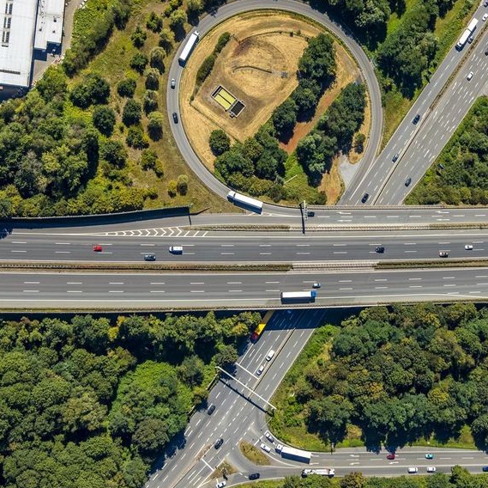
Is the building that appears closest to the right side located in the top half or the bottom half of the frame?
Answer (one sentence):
You can find the building that appears closest to the right side in the top half.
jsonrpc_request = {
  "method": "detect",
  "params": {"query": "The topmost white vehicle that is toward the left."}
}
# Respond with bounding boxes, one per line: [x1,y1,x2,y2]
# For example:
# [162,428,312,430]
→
[177,31,199,65]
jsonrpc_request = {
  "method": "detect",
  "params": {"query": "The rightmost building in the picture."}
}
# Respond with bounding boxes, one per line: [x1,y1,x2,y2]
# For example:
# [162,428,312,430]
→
[33,0,64,51]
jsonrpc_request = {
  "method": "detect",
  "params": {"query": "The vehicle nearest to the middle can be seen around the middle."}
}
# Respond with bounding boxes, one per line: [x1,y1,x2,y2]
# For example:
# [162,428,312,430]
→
[225,191,261,213]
